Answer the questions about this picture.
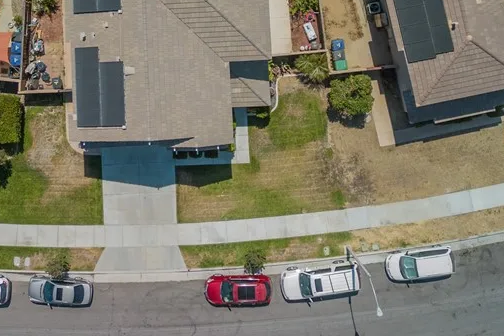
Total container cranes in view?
0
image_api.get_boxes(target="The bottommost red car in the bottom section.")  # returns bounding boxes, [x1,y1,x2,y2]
[204,272,270,309]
